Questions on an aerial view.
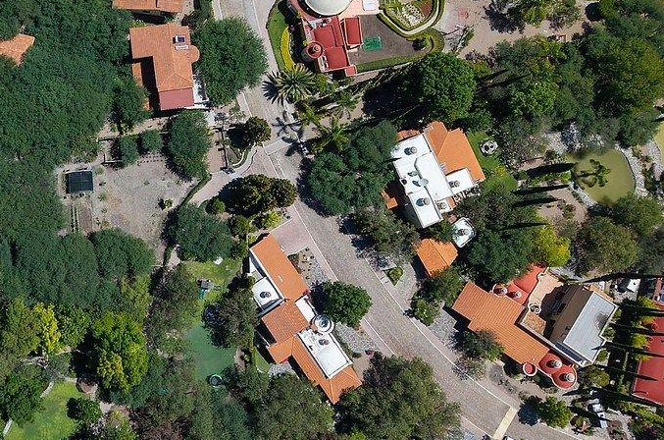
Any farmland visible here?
No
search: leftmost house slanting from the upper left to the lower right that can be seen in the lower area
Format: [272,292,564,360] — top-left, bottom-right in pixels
[245,233,358,402]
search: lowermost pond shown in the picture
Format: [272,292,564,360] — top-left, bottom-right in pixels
[566,148,634,204]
